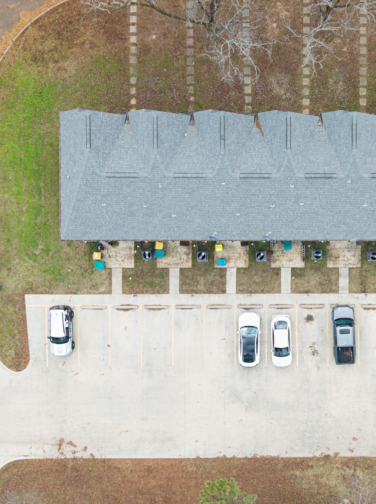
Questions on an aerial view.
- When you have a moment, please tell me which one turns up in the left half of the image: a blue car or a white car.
white car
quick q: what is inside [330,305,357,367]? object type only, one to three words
truck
